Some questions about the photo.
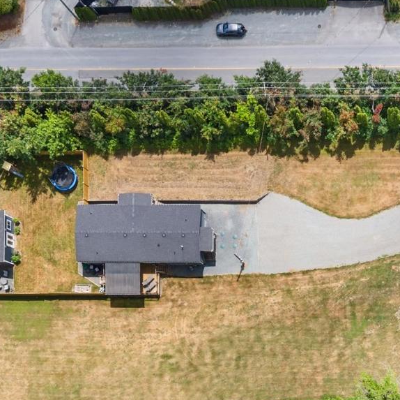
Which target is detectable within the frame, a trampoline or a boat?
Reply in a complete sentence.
Of the two, only a trampoline appears.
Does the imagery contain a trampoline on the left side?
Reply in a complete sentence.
Yes, on the left side there is a trampoline.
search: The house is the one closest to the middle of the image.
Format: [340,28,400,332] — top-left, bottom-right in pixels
[75,193,217,265]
